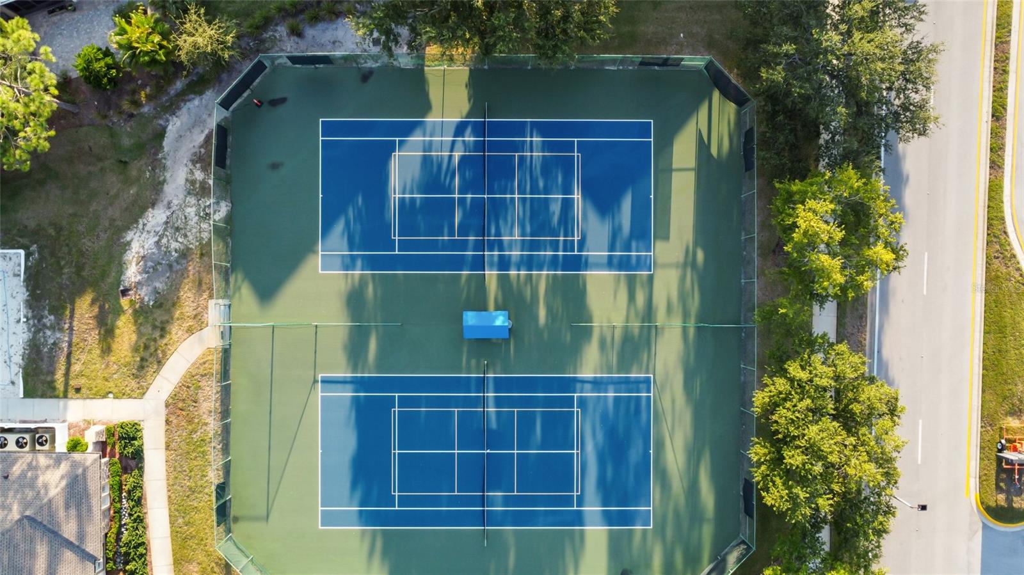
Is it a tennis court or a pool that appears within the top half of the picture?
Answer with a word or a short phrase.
tennis court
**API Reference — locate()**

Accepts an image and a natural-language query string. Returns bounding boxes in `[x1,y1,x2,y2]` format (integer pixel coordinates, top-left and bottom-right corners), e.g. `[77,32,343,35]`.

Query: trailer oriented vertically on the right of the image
[996,424,1024,488]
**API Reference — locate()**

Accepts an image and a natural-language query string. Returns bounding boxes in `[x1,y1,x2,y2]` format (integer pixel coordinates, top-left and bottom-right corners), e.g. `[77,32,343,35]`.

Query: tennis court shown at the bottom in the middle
[319,375,652,529]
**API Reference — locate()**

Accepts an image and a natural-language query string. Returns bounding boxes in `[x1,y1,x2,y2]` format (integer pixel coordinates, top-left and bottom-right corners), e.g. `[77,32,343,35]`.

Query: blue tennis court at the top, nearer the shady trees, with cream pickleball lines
[320,119,652,273]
